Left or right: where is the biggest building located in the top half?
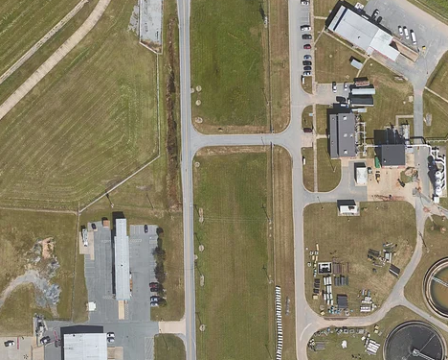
right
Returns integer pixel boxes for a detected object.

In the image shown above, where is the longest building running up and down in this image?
[113,218,131,300]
